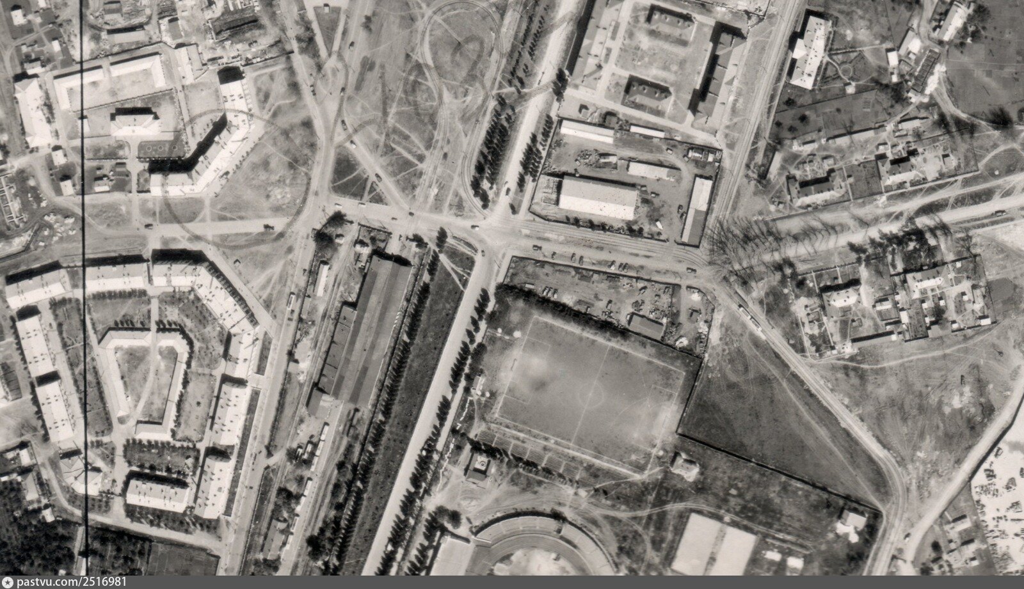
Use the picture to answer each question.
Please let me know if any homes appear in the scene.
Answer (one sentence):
Yes, a home is visible in the scene.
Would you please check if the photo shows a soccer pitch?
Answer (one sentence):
Yes, a soccer pitch is visible in the scene.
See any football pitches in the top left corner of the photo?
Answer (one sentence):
No, looking in the top left corner of the photo, there is no football pitch.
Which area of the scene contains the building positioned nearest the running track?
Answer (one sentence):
The building positioned nearest the running track is in the bottom part of the image.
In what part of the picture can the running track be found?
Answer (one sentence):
The running track is in the bottom part of the image.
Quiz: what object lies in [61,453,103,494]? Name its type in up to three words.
house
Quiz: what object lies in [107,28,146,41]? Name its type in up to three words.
shed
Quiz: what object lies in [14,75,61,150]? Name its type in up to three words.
building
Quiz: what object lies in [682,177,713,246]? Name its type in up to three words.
building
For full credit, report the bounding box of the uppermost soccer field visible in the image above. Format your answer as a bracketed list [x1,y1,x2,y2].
[496,317,686,475]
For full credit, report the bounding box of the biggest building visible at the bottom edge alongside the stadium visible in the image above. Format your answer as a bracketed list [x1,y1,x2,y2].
[429,537,472,583]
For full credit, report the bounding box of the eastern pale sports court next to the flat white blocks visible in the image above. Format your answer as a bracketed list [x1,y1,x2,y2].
[707,526,757,581]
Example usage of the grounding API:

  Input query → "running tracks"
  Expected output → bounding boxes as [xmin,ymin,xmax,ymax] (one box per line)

[462,536,602,589]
